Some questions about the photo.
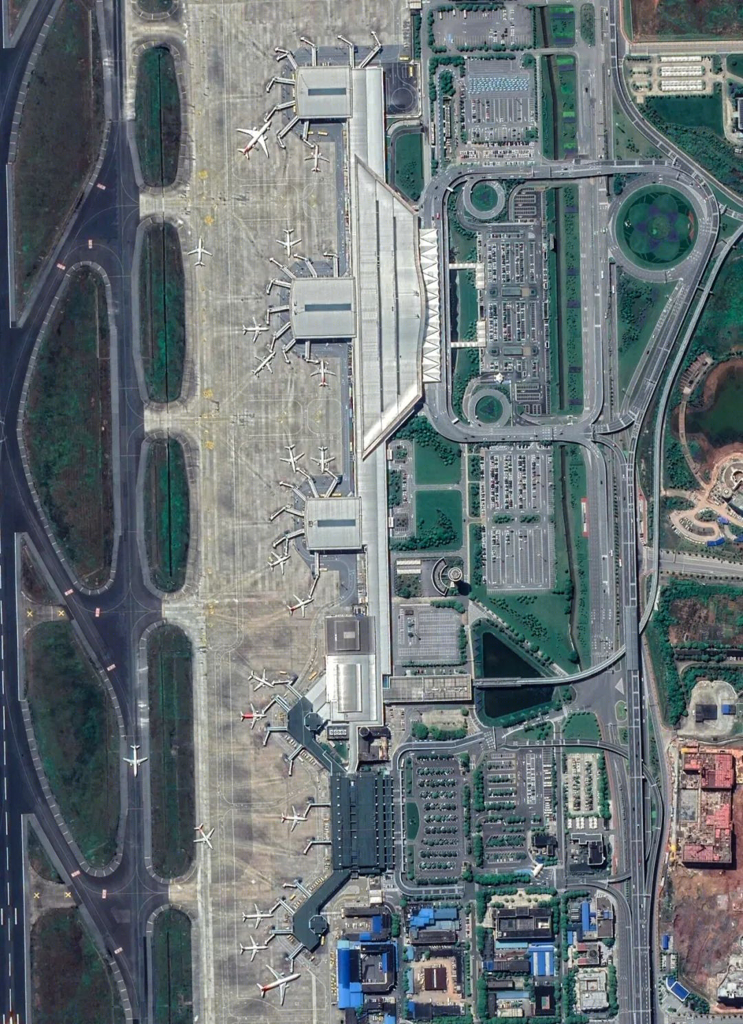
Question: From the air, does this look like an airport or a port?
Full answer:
The area seen from above is an airport.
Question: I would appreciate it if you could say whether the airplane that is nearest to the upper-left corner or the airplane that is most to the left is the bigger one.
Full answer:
Compared with the airplane that is most to the left, the airplane that is nearest to the upper-left corner is the larger one.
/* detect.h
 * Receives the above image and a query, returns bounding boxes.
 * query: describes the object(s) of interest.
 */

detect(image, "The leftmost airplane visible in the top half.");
[187,237,212,265]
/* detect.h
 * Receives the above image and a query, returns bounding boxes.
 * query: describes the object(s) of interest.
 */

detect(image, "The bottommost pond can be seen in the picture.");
[483,633,555,718]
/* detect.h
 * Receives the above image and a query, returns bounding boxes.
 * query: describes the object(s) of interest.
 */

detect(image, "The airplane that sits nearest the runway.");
[122,745,147,776]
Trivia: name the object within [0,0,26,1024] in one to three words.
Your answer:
runway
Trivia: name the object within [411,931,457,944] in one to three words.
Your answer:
building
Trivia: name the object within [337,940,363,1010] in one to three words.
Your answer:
hangar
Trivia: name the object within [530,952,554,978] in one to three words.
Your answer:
building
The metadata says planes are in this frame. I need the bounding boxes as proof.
[242,317,268,341]
[242,904,273,929]
[304,144,329,171]
[249,671,273,692]
[194,825,215,849]
[276,229,301,256]
[187,237,212,265]
[287,595,313,615]
[310,446,335,472]
[122,745,147,776]
[267,551,290,571]
[281,806,307,831]
[310,360,335,386]
[251,351,275,376]
[280,445,304,471]
[241,704,266,729]
[240,936,268,962]
[236,122,270,160]
[255,966,301,1006]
